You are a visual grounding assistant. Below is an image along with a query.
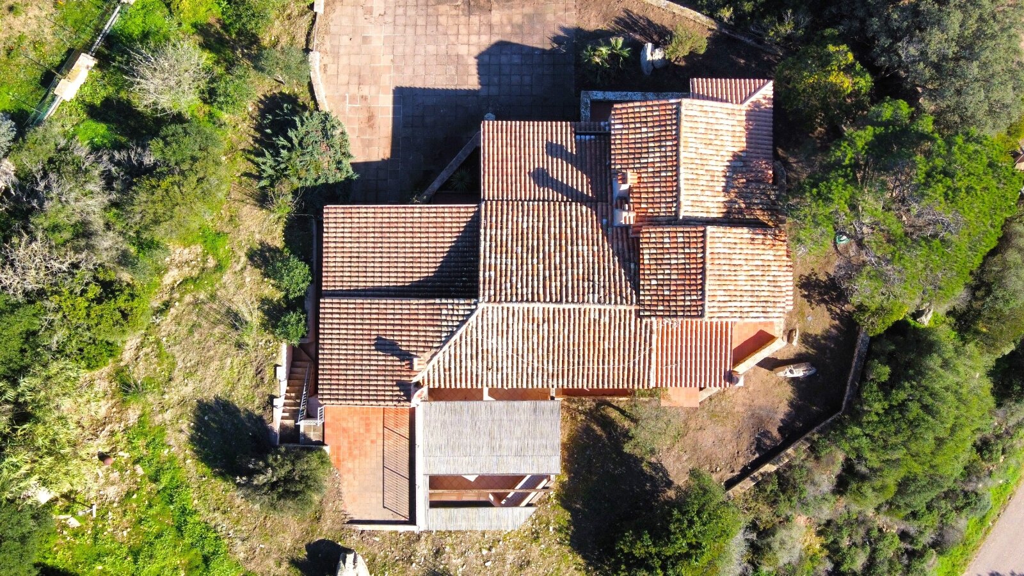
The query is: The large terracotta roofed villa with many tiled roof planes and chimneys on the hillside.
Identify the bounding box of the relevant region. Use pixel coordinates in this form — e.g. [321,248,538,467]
[315,75,798,408]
